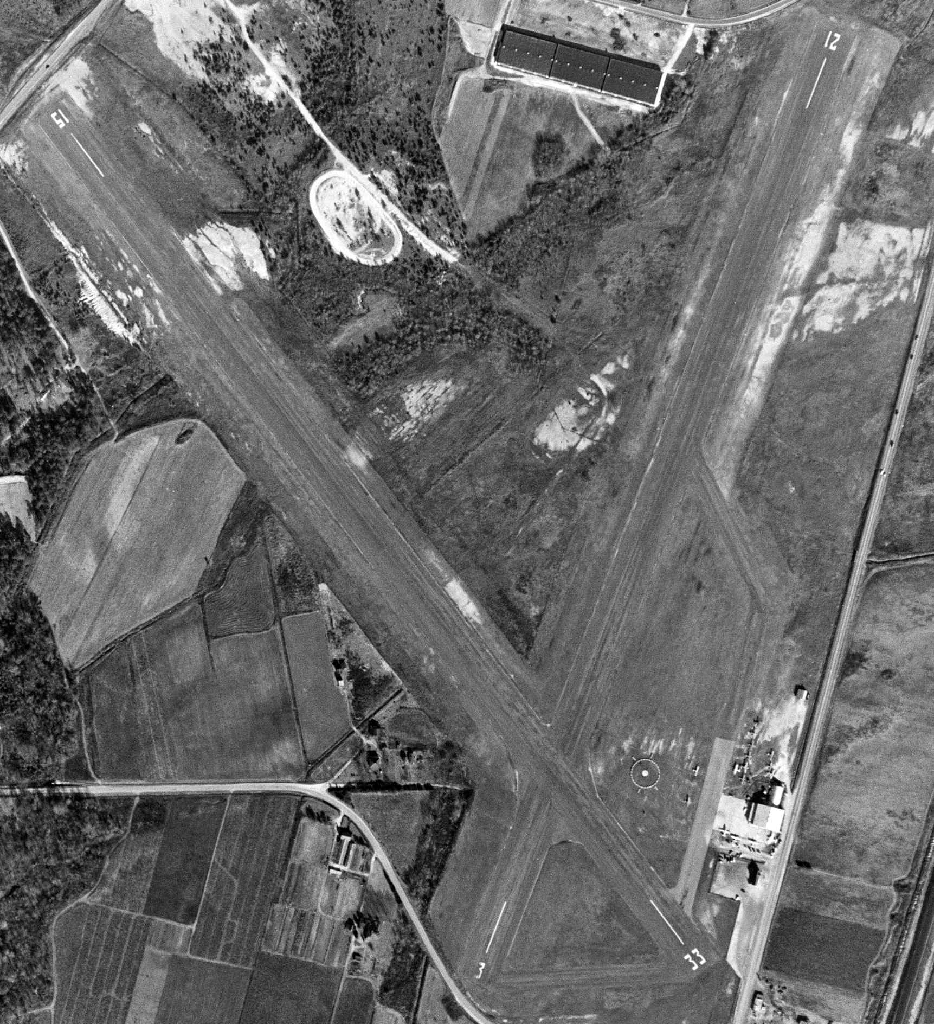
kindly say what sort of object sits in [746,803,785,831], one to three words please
hangar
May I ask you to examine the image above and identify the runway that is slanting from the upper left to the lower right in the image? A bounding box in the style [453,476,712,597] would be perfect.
[43,103,724,983]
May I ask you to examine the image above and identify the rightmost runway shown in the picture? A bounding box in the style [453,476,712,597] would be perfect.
[455,26,860,980]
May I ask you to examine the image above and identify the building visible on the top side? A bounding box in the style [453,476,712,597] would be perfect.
[496,30,663,110]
